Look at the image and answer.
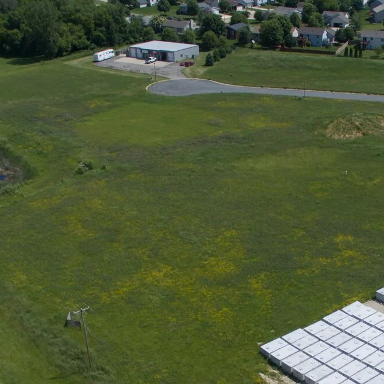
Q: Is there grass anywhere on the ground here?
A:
Yes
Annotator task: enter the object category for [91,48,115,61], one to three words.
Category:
vehicle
